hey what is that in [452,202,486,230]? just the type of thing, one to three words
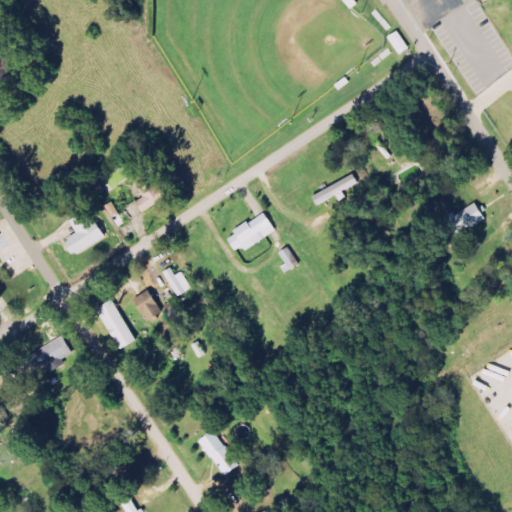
house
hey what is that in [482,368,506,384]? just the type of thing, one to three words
vehicle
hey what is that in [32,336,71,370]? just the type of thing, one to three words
house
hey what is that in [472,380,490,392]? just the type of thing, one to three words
vehicle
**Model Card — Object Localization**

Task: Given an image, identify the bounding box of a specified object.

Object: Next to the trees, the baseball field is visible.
[154,0,382,162]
